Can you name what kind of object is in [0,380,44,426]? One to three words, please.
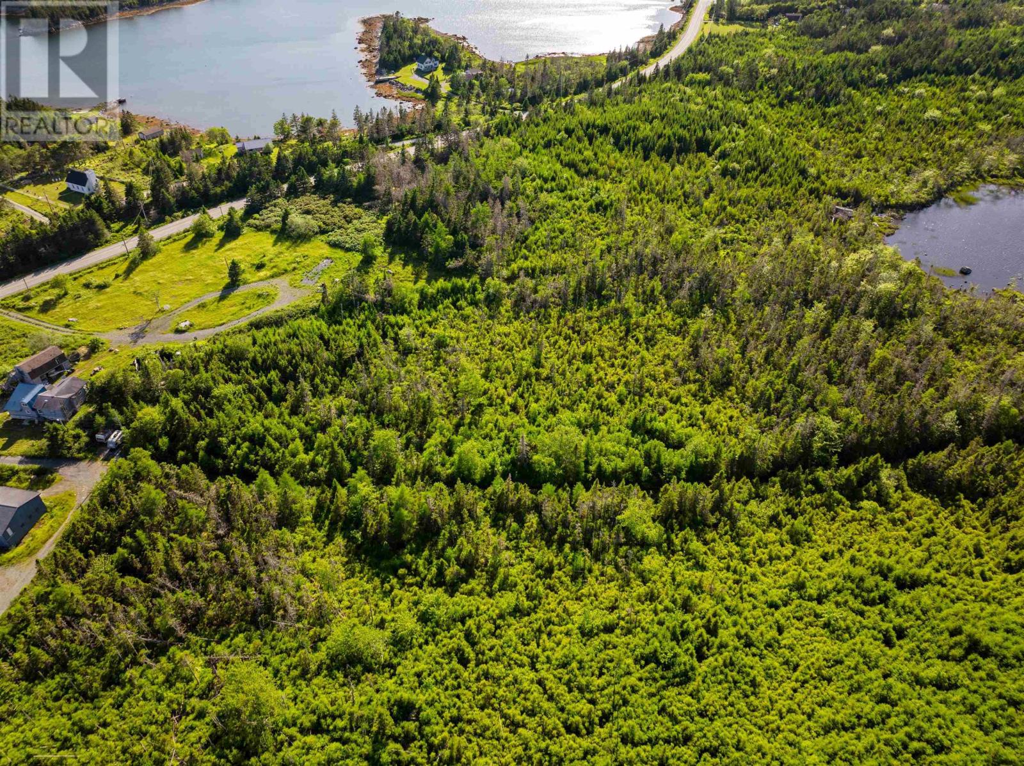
house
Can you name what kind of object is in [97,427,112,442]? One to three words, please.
vehicle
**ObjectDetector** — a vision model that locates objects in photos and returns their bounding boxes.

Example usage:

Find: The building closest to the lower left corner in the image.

[0,484,46,546]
